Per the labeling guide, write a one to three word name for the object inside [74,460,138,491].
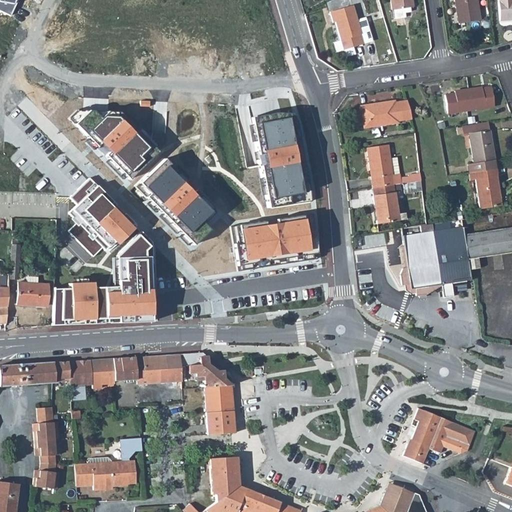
house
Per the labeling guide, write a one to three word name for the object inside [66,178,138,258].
building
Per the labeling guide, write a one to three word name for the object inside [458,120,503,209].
house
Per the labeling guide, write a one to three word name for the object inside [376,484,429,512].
building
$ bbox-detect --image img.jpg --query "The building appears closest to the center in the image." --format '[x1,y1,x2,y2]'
[229,214,322,276]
